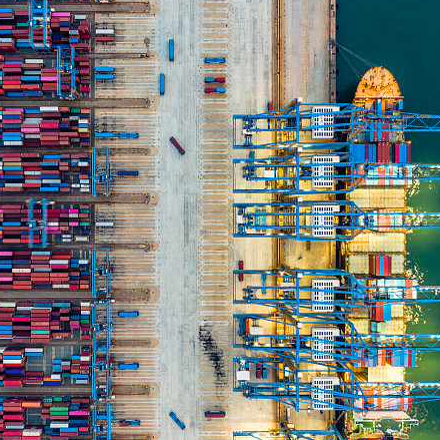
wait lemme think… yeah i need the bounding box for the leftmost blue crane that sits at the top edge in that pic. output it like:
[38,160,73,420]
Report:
[23,0,55,54]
